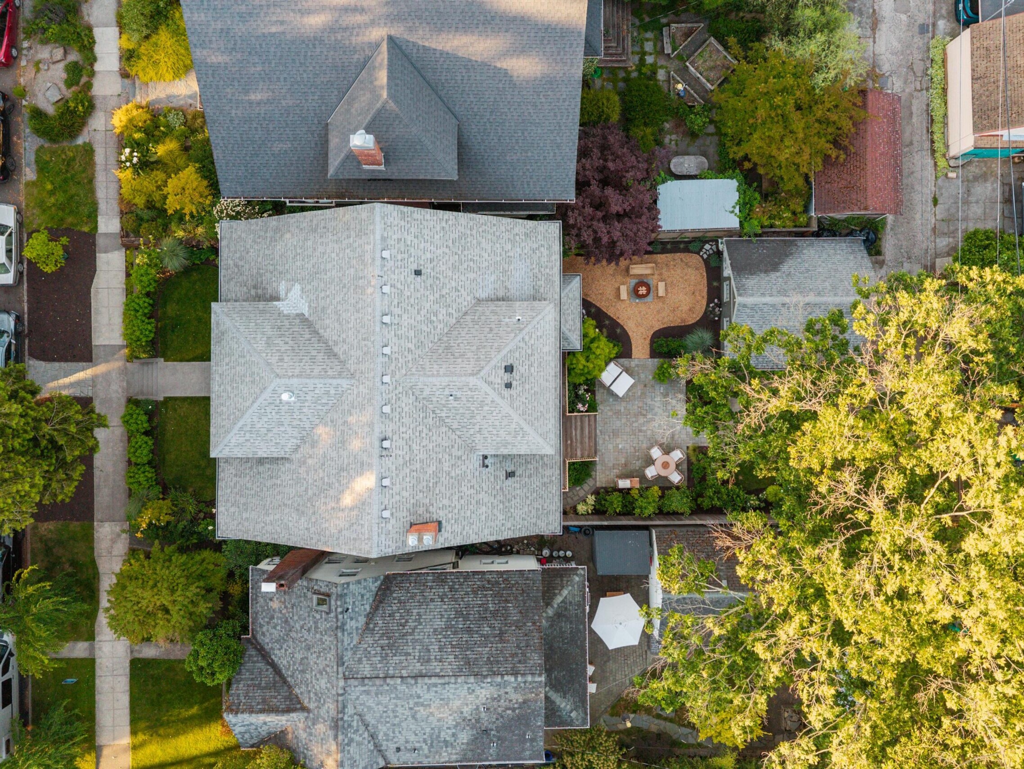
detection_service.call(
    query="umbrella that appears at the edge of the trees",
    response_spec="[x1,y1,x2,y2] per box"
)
[591,593,645,649]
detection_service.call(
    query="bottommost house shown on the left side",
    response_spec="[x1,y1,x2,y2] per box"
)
[222,548,589,769]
